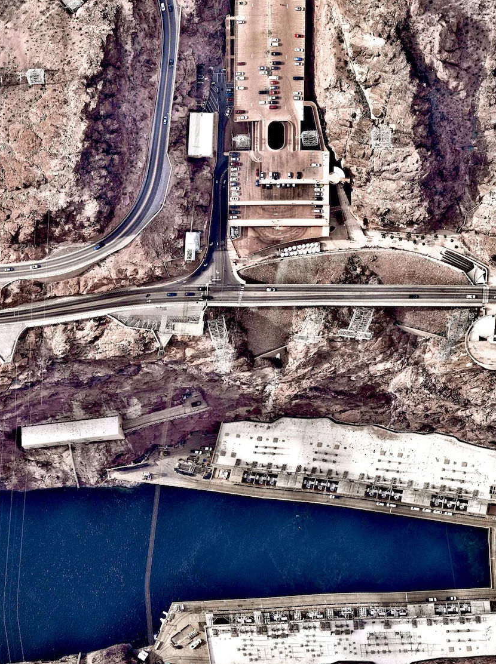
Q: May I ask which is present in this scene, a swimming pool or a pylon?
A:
pylon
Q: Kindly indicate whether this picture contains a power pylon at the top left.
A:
Yes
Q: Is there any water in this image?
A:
Yes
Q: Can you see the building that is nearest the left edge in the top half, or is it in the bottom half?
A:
bottom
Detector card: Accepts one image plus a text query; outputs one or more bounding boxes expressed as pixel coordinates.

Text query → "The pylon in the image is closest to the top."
[26,68,43,89]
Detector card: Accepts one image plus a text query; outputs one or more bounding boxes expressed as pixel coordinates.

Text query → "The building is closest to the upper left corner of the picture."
[189,112,218,158]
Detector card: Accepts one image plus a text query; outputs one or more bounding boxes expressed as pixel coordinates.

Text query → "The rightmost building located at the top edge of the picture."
[225,0,342,257]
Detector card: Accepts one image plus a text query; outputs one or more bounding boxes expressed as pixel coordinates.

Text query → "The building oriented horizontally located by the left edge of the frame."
[21,417,128,452]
